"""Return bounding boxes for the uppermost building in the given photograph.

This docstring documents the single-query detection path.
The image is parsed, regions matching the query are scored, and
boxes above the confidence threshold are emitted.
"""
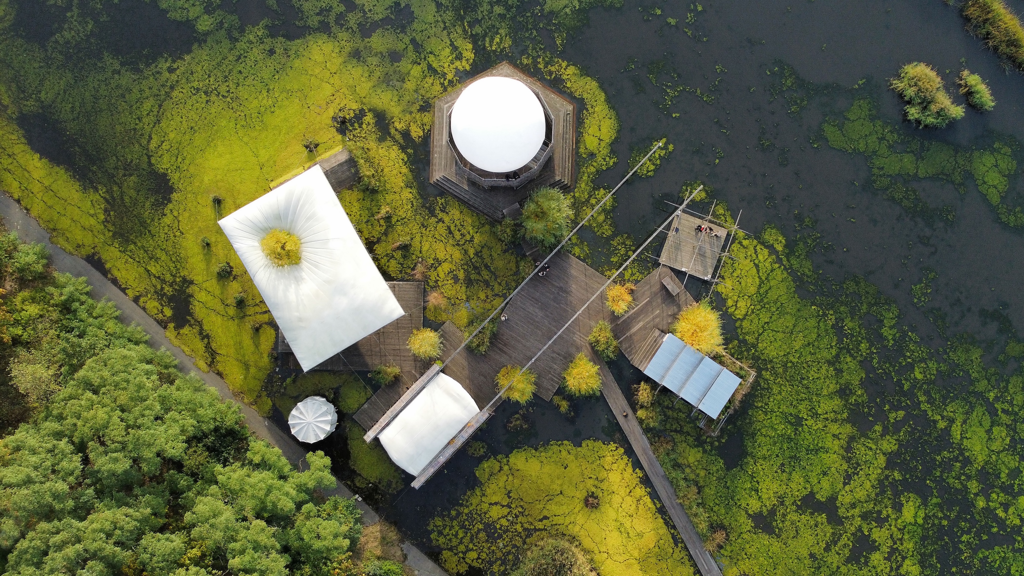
[429,60,577,222]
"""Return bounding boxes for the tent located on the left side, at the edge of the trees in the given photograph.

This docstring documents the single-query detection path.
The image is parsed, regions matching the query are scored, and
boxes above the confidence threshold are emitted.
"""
[289,394,339,442]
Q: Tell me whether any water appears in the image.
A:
Yes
